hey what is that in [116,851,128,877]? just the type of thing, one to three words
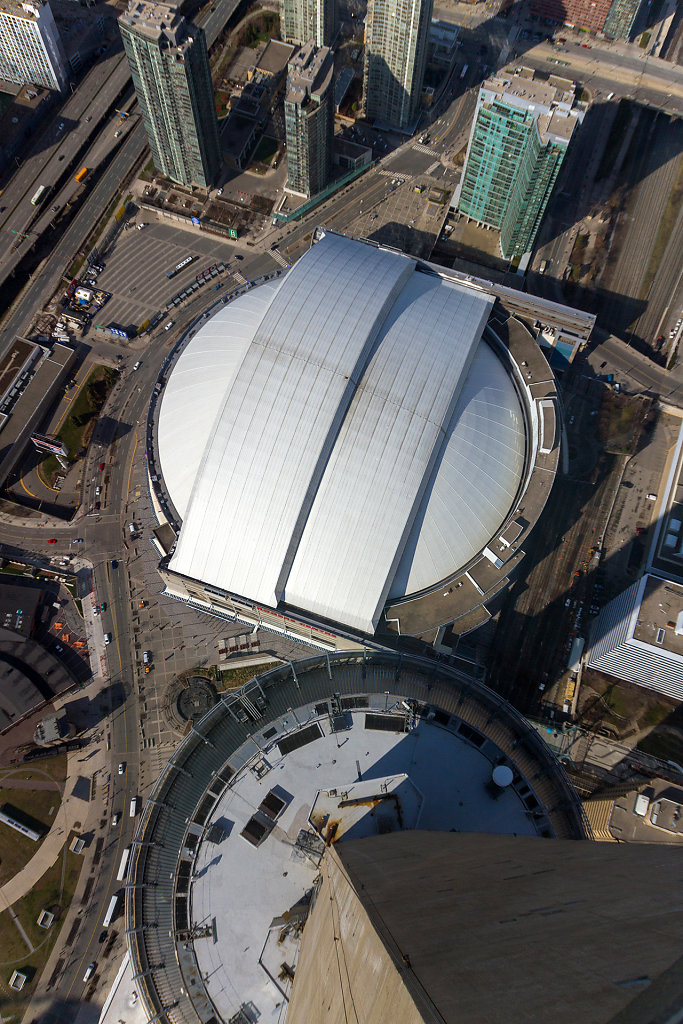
vehicle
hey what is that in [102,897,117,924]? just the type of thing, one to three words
vehicle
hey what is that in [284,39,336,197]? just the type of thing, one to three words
building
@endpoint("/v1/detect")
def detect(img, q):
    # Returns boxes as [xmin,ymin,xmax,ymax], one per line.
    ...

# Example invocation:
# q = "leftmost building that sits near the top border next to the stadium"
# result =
[120,0,226,194]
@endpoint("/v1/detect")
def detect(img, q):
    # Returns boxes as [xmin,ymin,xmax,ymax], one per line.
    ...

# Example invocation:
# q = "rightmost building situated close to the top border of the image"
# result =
[604,0,647,41]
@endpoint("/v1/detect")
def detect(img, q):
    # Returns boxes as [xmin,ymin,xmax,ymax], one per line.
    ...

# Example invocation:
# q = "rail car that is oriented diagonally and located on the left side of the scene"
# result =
[0,808,42,840]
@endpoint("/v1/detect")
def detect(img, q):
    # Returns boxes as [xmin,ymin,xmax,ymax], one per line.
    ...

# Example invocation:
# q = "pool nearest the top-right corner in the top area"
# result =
[550,343,574,370]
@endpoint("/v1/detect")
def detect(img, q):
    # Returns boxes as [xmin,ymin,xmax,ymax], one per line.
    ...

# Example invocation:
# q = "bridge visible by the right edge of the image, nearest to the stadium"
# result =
[577,326,683,410]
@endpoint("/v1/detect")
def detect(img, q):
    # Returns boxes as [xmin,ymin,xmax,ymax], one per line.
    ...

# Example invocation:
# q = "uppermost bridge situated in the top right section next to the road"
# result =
[580,36,683,118]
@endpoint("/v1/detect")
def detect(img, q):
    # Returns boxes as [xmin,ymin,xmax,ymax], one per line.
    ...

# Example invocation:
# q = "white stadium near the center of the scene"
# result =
[145,229,596,684]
